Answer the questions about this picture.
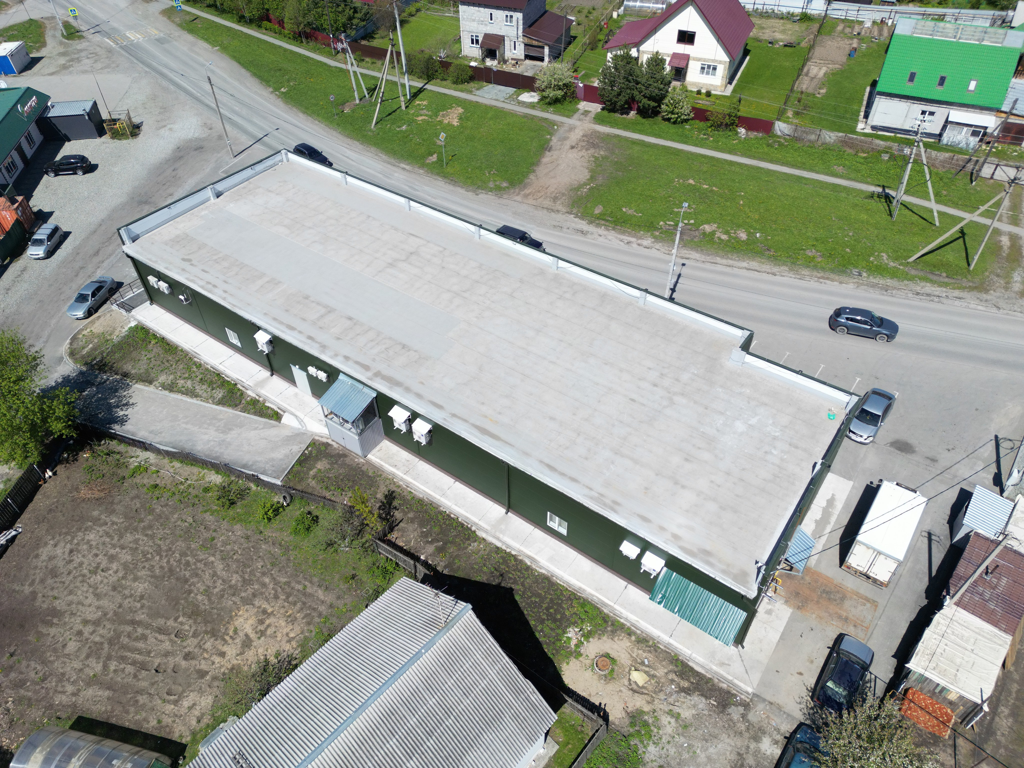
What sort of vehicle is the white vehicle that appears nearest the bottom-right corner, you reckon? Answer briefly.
truck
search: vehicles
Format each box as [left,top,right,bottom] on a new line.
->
[764,718,826,768]
[294,138,342,167]
[806,635,873,726]
[38,152,93,178]
[830,304,900,343]
[65,271,119,316]
[848,385,893,445]
[495,216,552,250]
[842,472,932,593]
[22,221,64,258]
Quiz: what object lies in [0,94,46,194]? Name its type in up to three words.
building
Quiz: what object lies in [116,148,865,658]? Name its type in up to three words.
building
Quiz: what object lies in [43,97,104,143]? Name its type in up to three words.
shed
